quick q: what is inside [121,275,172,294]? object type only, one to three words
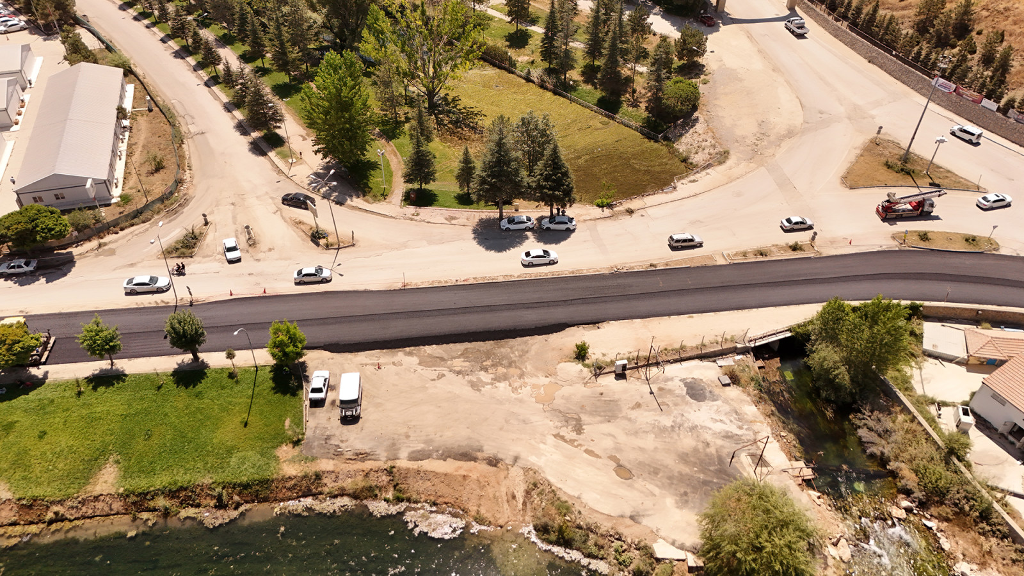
car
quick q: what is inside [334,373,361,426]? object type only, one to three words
vehicle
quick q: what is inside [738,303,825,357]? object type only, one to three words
bridge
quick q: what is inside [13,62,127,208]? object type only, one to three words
building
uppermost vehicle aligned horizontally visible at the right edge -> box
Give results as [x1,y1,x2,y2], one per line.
[949,123,988,142]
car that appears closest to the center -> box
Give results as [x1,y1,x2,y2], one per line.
[519,248,560,266]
